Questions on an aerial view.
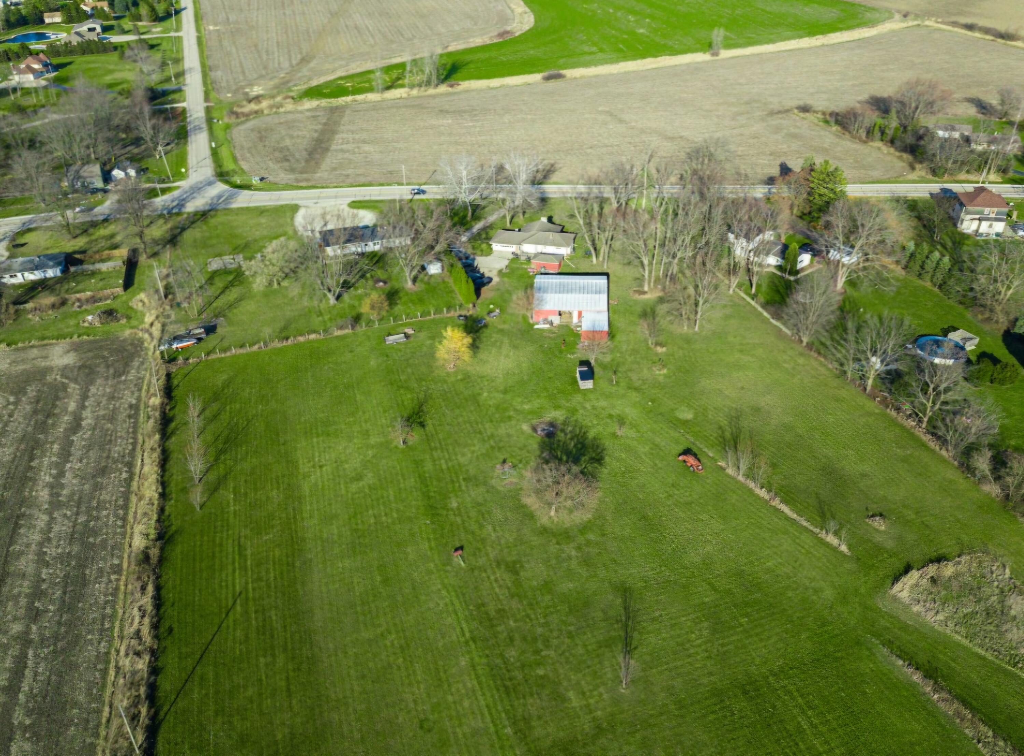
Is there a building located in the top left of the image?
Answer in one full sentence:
Yes, a building shows up in the top left of the image.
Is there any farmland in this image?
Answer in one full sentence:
Yes, some farmland is visible.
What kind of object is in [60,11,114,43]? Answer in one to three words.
house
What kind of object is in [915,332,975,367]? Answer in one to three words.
swimming pool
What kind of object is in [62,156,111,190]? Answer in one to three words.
shed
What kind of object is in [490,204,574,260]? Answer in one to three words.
house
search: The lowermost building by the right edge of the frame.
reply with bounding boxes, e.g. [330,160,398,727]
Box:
[955,188,1018,241]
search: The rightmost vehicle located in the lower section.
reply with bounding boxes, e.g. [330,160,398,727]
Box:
[675,452,708,473]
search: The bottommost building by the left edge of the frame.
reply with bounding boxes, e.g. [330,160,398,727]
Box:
[0,248,67,287]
